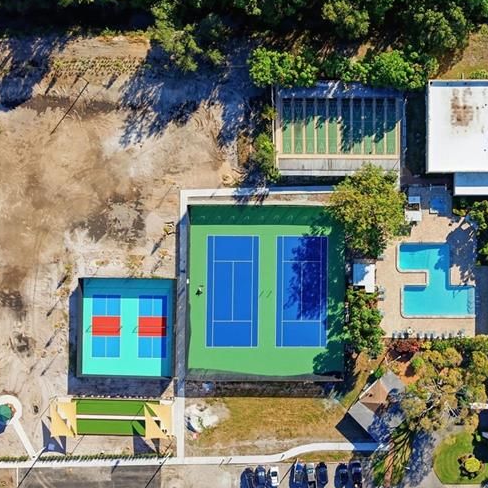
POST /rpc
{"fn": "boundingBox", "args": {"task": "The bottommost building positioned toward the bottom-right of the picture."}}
[348,370,416,443]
